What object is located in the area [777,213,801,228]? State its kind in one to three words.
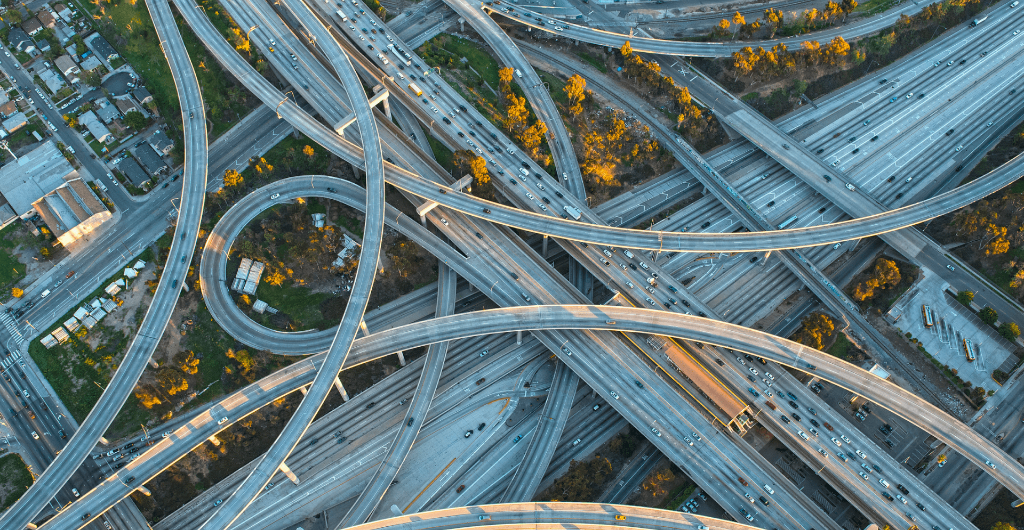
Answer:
vehicle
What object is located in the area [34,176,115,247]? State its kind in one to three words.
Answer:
building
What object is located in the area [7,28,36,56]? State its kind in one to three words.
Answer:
house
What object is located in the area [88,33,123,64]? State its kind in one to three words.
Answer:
house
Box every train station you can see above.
[606,291,766,447]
